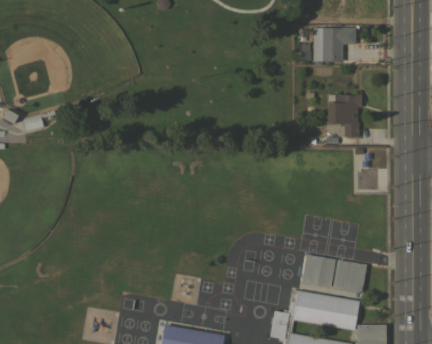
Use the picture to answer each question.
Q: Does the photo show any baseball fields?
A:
Yes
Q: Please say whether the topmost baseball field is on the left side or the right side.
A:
left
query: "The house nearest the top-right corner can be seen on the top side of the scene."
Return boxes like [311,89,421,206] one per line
[314,28,356,62]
